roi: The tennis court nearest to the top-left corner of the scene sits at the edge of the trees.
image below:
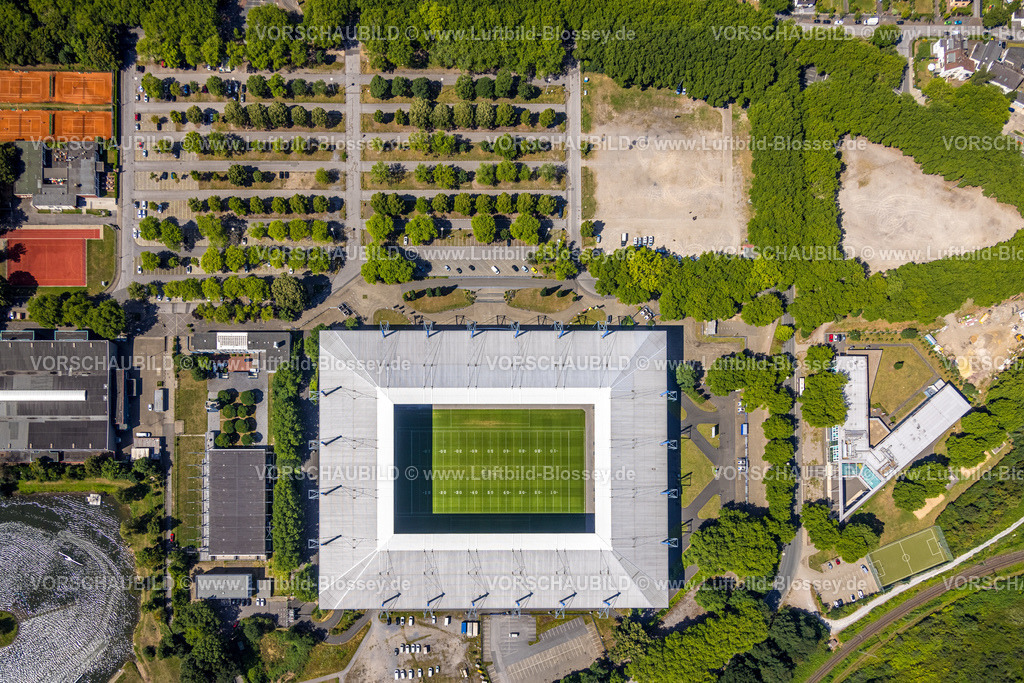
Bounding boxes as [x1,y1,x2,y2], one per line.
[0,71,51,103]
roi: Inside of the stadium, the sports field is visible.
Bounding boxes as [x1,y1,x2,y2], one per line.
[394,404,595,534]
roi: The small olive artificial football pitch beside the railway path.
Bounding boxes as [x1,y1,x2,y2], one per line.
[870,526,952,583]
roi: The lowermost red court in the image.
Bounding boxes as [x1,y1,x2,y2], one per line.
[6,238,87,287]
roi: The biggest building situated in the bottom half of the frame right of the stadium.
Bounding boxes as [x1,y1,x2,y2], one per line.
[829,356,970,523]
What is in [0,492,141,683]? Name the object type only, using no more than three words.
pond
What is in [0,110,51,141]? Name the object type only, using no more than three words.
tennis court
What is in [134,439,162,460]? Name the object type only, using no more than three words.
shed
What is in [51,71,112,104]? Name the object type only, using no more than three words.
tennis court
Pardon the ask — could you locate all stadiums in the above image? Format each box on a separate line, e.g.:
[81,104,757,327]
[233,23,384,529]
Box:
[311,325,675,616]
